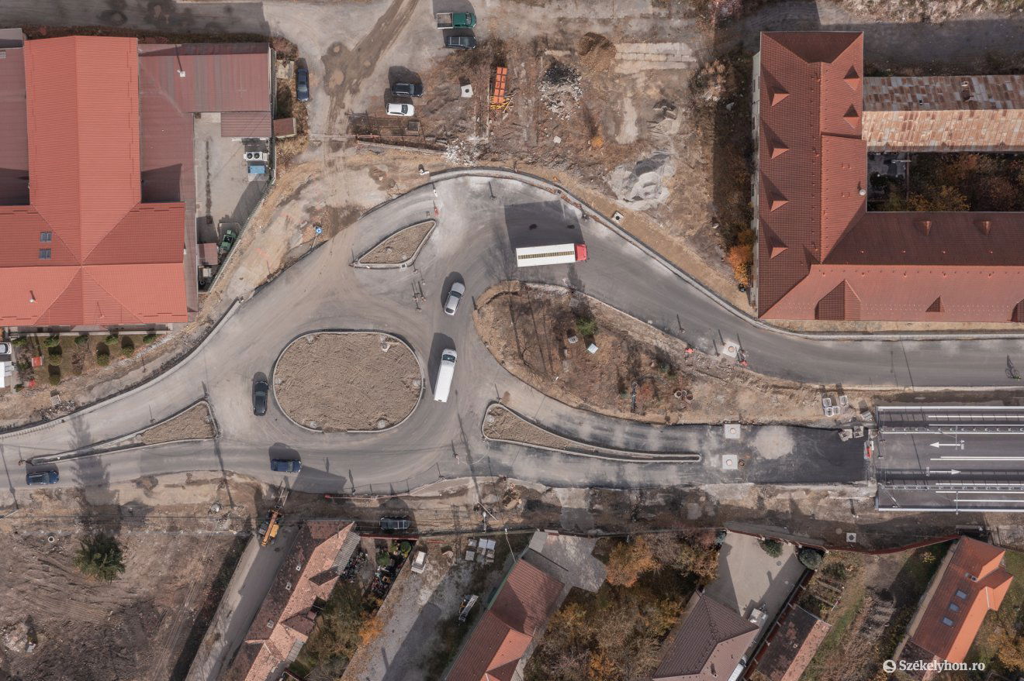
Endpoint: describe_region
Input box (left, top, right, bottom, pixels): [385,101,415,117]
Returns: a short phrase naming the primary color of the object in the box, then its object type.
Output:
white car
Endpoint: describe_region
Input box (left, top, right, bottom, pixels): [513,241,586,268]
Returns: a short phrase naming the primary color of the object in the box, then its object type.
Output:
white truck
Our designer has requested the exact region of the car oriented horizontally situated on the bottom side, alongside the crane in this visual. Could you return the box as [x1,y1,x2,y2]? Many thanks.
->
[269,459,301,475]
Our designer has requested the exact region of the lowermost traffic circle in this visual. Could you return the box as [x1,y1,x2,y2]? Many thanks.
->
[242,299,452,464]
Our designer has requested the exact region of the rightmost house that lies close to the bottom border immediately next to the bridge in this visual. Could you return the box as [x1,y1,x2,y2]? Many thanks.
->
[910,537,1013,663]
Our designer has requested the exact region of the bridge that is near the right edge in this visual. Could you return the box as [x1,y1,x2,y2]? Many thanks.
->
[876,406,1024,512]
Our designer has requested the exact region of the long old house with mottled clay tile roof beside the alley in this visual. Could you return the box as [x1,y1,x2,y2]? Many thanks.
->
[225,521,360,681]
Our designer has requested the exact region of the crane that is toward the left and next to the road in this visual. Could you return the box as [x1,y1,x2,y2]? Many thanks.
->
[253,481,292,547]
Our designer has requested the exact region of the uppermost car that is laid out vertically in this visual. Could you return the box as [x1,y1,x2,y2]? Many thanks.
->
[294,67,310,100]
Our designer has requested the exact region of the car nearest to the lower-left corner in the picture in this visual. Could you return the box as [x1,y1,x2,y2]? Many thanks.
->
[24,470,58,486]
